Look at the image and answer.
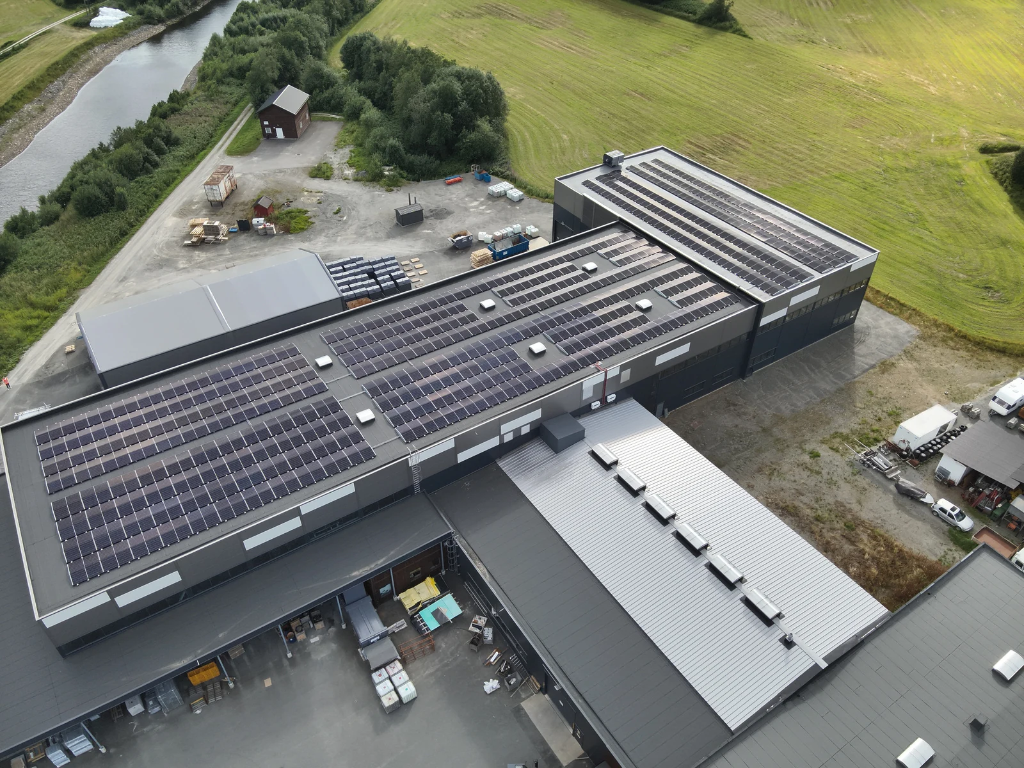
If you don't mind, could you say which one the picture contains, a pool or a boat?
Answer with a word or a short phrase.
boat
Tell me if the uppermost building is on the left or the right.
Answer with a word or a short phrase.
left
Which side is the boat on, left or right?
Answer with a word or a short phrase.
right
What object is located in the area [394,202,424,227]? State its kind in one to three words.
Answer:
shed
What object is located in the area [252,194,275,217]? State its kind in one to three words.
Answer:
shed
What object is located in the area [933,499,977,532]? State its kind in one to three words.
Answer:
car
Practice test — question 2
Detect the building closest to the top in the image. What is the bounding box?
[256,85,311,139]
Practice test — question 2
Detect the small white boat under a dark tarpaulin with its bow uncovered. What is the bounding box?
[895,467,937,495]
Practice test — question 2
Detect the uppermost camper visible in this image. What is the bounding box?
[988,377,1024,417]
